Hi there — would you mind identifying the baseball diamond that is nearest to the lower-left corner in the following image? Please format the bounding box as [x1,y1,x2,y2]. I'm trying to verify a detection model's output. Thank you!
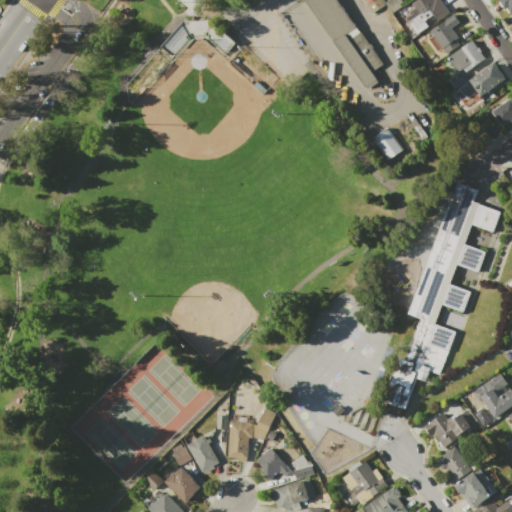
[173,282,255,362]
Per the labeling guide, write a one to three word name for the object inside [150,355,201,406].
tennis court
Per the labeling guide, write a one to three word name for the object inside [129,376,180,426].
tennis court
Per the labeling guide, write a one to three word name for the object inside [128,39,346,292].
baseball field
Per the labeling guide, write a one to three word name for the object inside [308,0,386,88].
building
